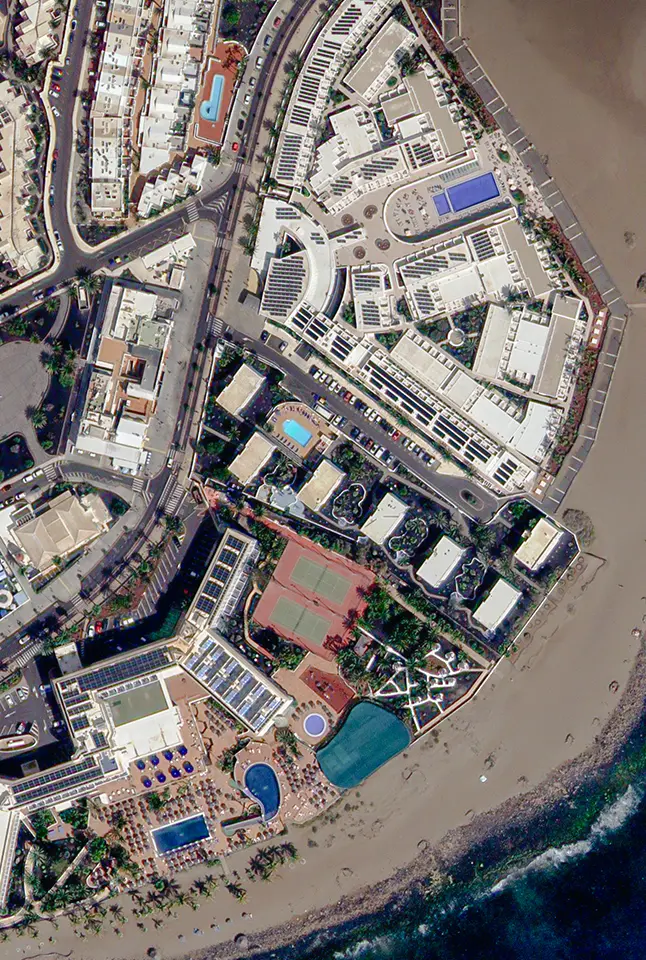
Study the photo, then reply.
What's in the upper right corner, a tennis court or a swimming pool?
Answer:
swimming pool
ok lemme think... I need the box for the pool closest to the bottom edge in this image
[152,814,210,856]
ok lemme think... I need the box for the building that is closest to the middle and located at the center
[297,460,346,515]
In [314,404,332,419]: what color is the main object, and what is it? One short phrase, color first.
white vehicle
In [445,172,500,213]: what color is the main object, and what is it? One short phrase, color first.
blue swimming pool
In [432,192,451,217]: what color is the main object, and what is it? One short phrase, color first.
blue swimming pool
